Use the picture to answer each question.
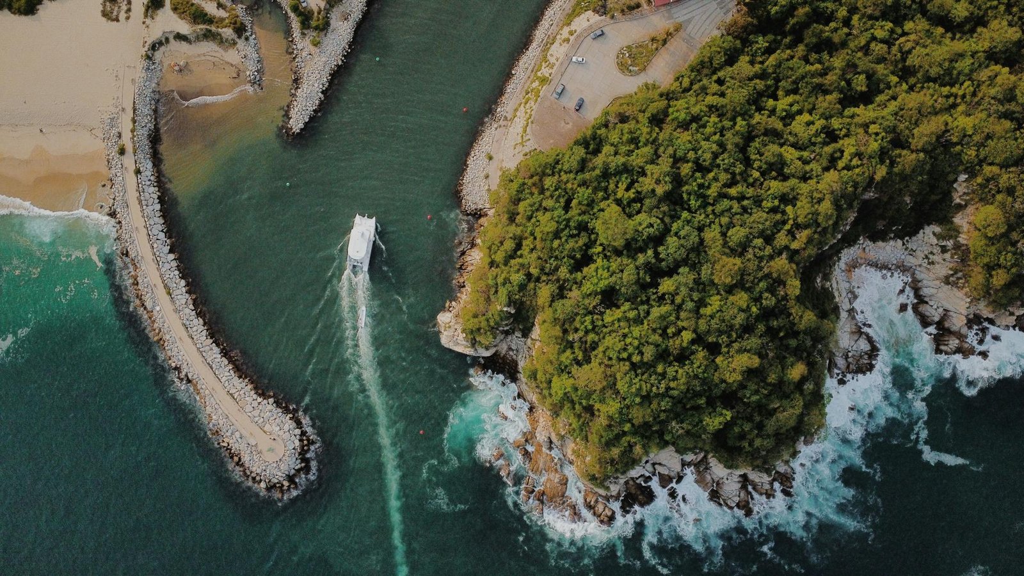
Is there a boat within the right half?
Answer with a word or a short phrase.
No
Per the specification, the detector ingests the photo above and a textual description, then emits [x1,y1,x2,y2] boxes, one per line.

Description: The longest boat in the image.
[348,214,373,272]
